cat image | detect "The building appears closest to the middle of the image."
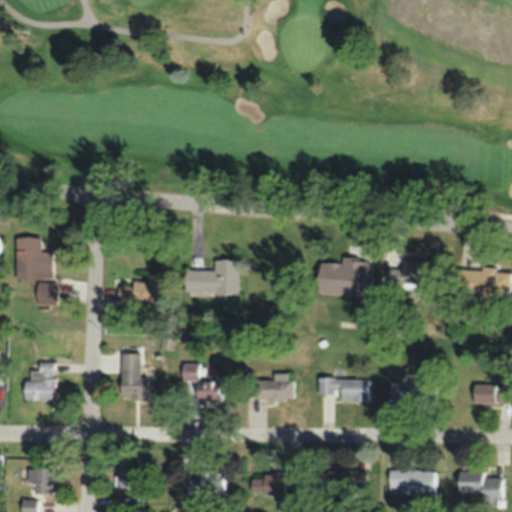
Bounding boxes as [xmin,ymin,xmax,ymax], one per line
[186,260,240,298]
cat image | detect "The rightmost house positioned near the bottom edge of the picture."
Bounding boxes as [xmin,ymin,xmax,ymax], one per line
[460,467,509,510]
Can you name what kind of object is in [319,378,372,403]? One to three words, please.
house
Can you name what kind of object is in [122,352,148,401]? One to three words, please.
house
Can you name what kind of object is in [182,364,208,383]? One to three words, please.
building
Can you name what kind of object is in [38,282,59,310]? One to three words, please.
building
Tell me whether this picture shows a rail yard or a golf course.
golf course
